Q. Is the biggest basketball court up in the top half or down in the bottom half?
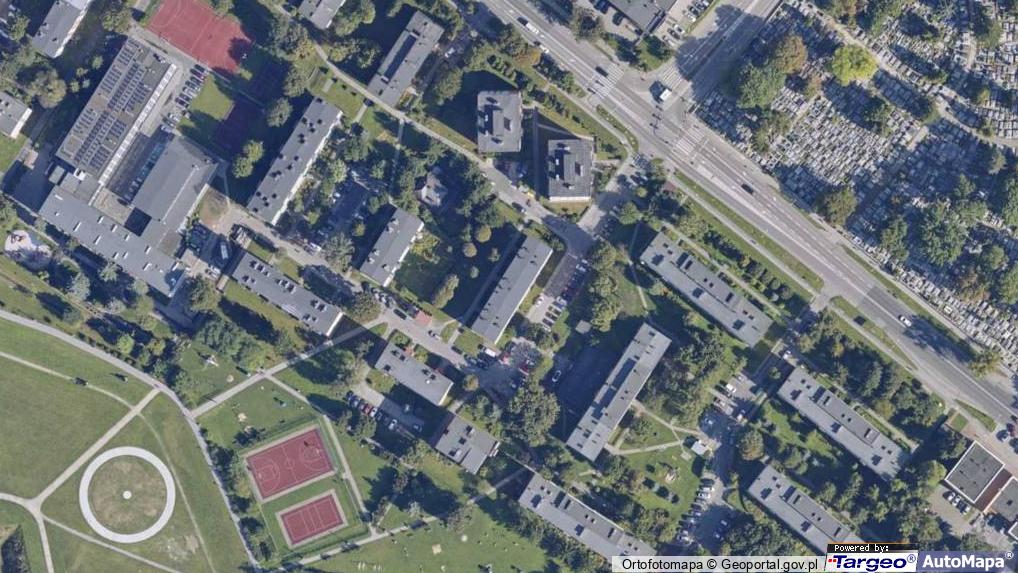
bottom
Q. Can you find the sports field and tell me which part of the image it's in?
top left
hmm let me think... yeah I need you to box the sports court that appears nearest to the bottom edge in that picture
[275,488,349,550]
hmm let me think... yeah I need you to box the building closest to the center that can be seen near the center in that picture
[470,234,552,347]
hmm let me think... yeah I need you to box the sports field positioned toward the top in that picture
[148,0,257,73]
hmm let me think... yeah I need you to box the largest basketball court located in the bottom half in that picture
[242,425,338,503]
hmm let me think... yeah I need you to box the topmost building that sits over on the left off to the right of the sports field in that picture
[296,0,344,32]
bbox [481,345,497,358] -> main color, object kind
white vehicle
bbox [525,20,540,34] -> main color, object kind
white vehicle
